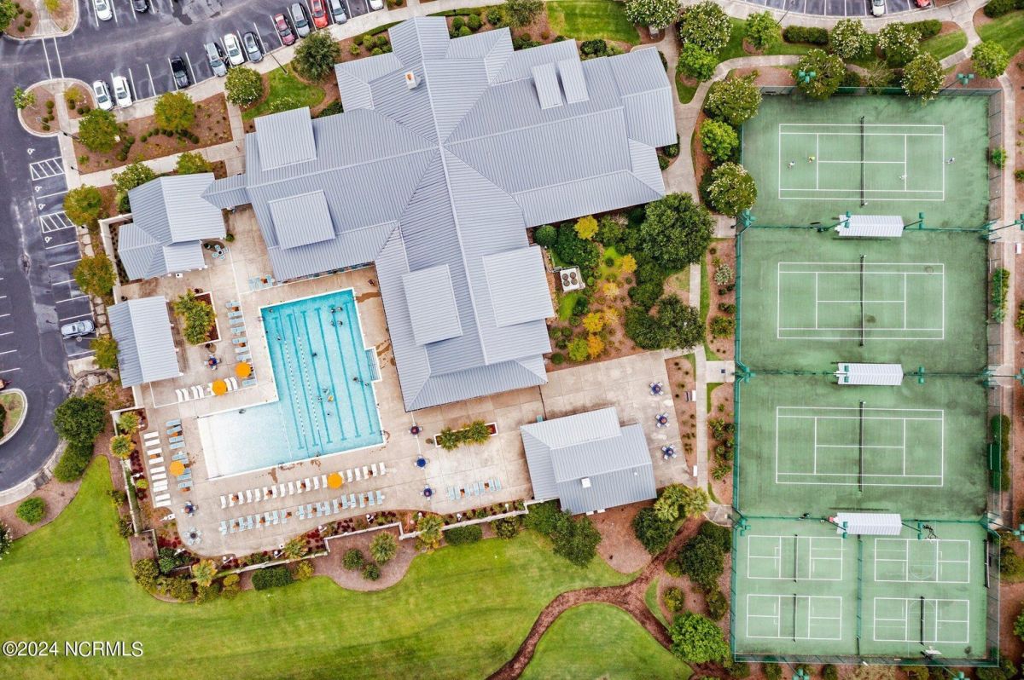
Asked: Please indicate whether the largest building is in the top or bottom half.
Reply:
top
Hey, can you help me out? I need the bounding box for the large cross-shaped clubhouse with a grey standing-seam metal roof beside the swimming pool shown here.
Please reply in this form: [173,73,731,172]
[245,16,677,412]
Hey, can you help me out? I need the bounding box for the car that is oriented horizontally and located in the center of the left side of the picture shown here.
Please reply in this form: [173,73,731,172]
[61,320,97,336]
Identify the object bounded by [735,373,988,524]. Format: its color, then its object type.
green tennis court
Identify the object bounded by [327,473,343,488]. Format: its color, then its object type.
orange umbrella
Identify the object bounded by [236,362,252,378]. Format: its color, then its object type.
orange umbrella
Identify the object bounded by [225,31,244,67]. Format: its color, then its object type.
white car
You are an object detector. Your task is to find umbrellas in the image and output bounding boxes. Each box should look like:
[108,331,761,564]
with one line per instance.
[213,380,228,395]
[236,362,252,378]
[327,473,343,488]
[170,461,185,476]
